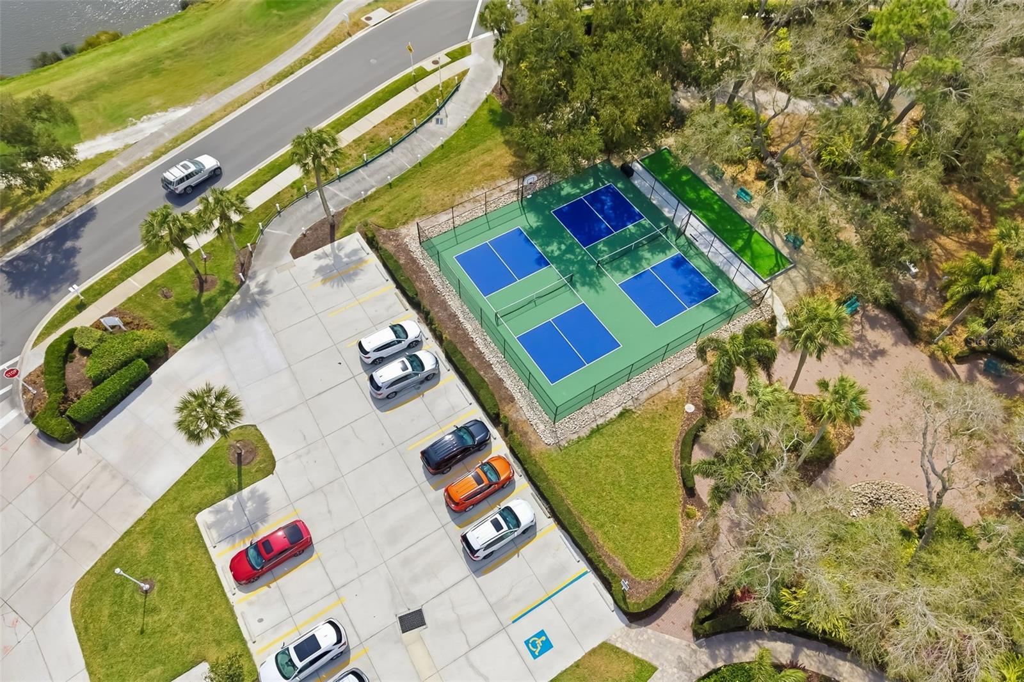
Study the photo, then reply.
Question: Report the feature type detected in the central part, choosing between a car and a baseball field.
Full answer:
Visible in the central part is a car.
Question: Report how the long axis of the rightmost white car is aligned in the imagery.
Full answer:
Seen from above, the rightmost white car lies at an angle.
